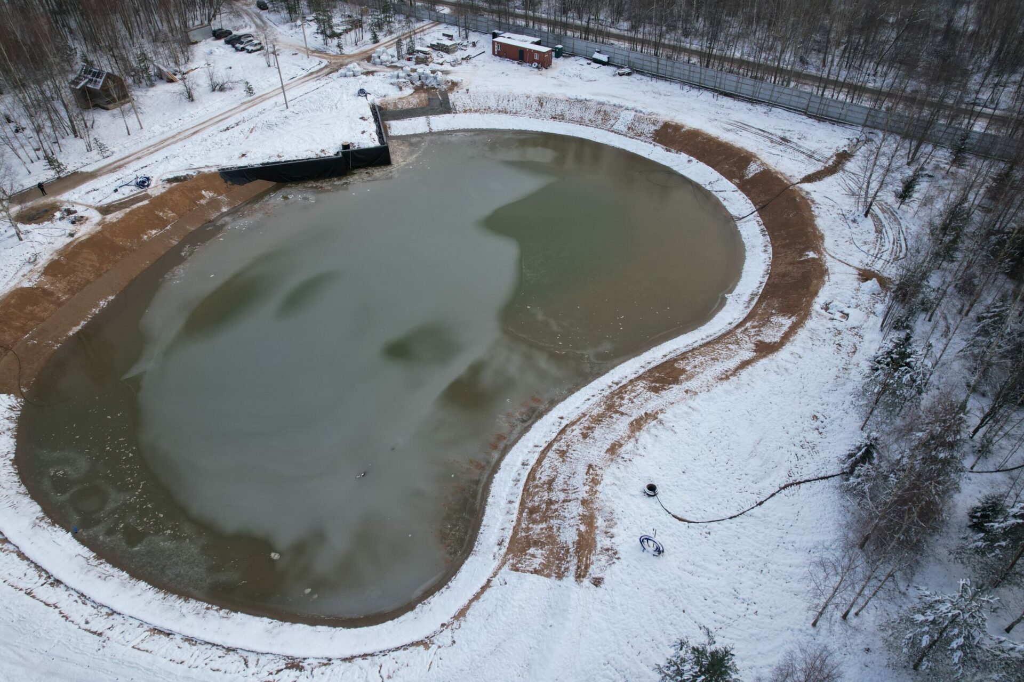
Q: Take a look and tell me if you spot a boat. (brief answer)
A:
No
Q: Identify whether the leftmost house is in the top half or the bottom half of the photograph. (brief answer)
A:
top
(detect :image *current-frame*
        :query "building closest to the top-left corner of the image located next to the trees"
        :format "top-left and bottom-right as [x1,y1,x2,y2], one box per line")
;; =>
[68,61,141,111]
